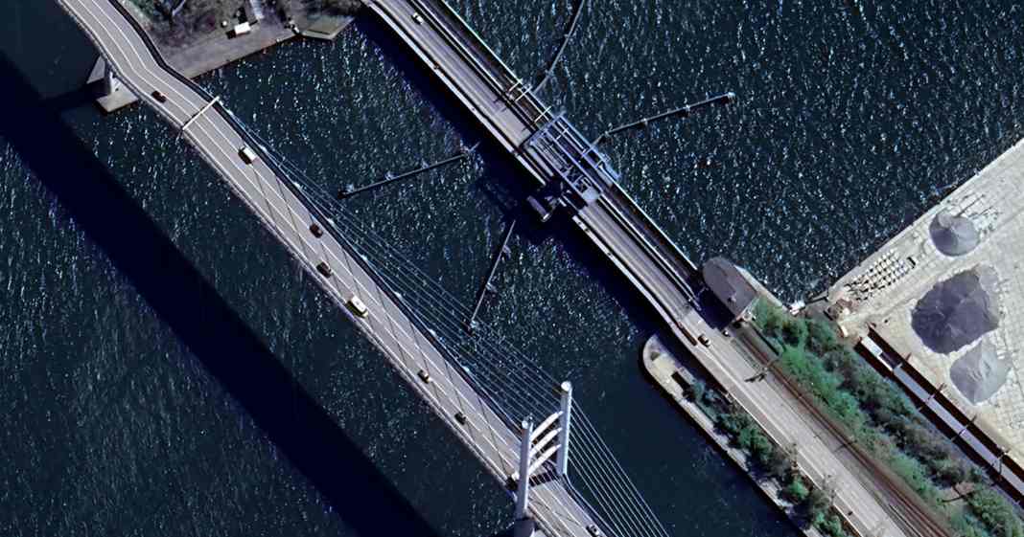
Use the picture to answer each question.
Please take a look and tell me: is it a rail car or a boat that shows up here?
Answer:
rail car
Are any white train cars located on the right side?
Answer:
Yes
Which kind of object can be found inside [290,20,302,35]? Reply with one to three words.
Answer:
vehicle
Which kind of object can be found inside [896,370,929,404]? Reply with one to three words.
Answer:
rail car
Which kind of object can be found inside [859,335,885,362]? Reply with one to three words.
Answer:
rail car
